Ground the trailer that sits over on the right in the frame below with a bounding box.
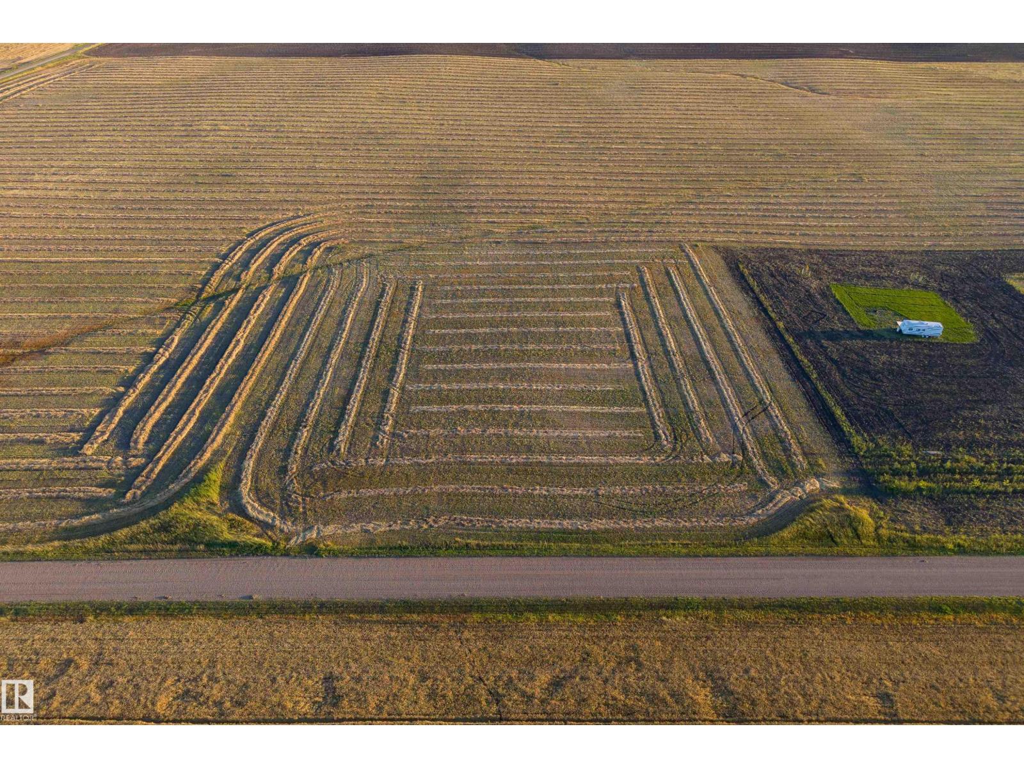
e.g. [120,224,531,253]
[898,319,946,337]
